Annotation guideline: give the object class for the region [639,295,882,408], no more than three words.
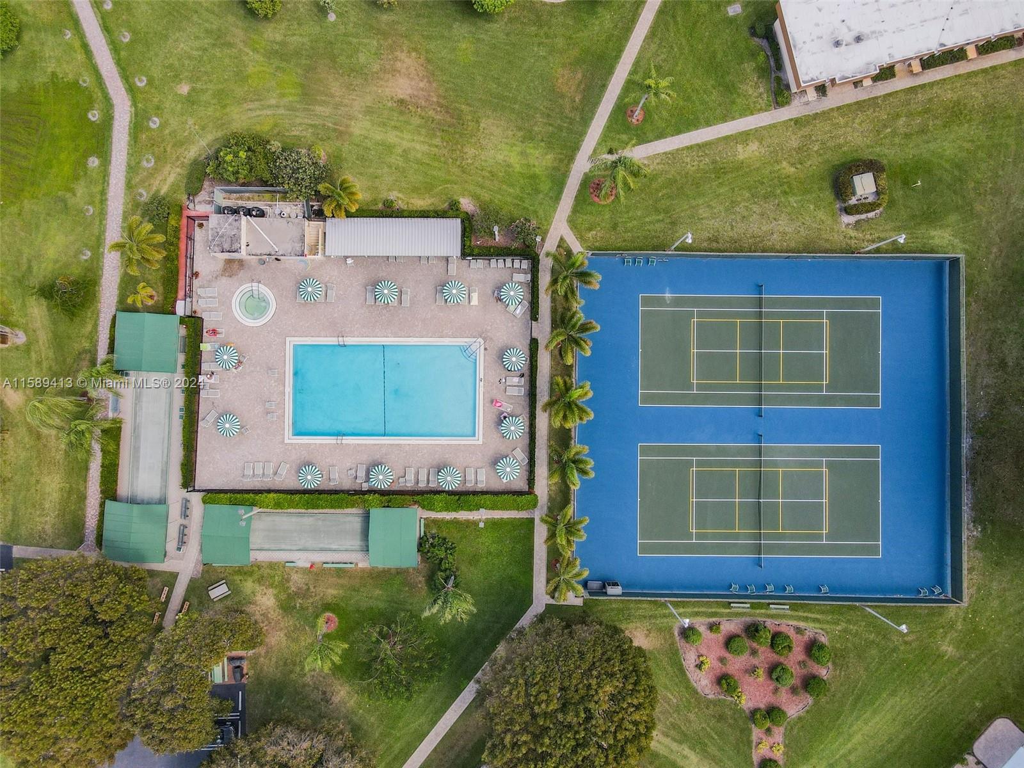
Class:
tennis court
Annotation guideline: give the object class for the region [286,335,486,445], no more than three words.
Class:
swimming pool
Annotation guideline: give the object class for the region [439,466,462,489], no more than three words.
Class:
umbrella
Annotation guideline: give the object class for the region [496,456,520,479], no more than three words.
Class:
umbrella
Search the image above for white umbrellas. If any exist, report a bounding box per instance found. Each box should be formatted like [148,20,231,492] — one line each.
[439,466,462,489]
[219,414,243,438]
[503,348,526,371]
[370,465,393,488]
[443,281,467,304]
[301,279,325,303]
[496,456,520,479]
[500,416,524,439]
[375,282,399,306]
[500,284,523,308]
[218,346,241,369]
